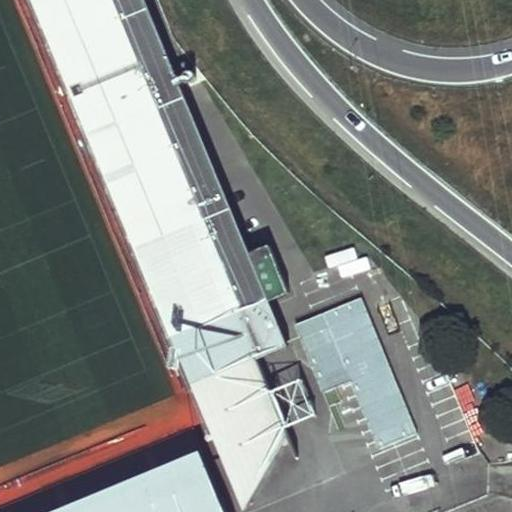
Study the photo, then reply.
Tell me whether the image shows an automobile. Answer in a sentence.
Yes, there's an automobile here.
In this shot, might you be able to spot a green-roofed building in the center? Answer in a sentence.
Yes, there is a green-roofed building in the center.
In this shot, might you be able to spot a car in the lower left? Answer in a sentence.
No, there is no car in the lower left.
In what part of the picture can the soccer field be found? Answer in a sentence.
The soccer field is located in the left region of the scene.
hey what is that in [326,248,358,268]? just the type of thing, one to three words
building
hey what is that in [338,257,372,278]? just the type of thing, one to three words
building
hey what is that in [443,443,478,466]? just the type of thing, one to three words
vehicle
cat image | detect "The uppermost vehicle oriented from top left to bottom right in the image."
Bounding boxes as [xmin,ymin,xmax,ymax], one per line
[345,110,366,130]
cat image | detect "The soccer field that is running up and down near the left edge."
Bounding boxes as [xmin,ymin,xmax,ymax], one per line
[0,0,174,467]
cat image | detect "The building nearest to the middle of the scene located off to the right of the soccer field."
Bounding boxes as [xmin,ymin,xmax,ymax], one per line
[250,246,286,300]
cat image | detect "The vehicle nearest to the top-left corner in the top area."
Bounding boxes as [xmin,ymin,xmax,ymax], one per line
[226,190,245,204]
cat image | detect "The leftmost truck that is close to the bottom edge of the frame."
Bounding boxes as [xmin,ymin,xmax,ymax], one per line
[390,474,437,498]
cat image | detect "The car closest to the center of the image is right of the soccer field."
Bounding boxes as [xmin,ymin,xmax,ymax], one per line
[239,218,260,232]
